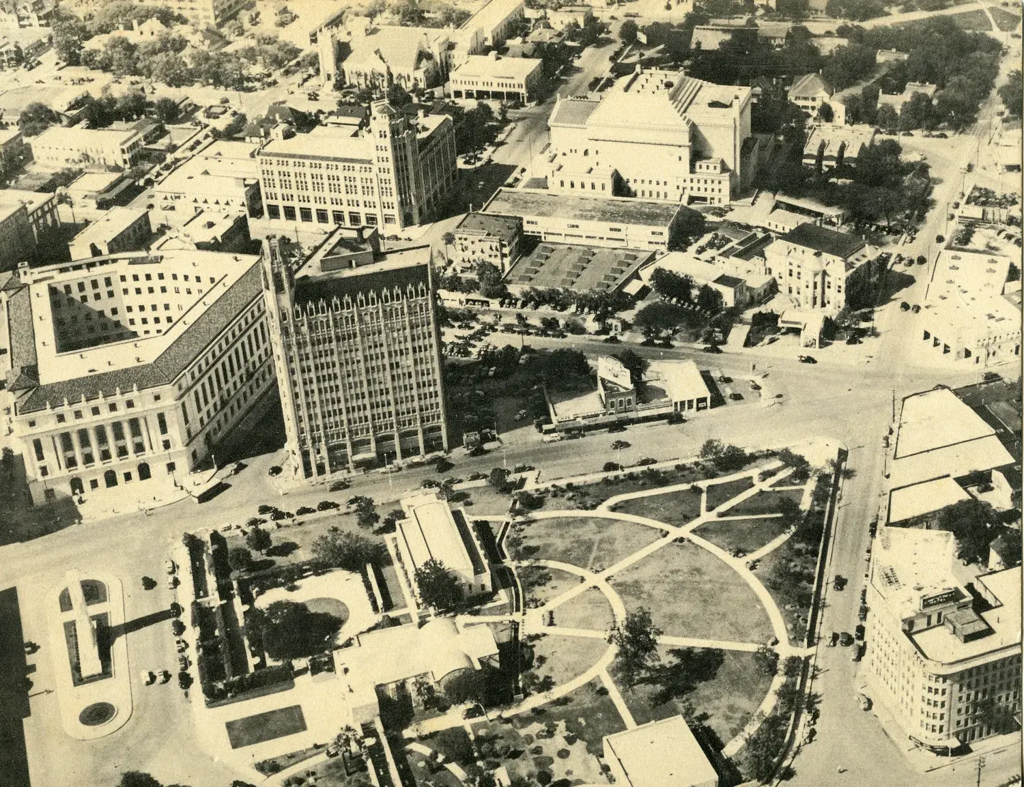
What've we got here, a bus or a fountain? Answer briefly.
bus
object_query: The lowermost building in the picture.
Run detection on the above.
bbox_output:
[603,715,725,787]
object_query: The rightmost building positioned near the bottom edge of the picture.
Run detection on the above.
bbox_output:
[869,528,1024,762]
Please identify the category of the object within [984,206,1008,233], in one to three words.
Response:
greenhouse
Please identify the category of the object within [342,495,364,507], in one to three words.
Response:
vehicle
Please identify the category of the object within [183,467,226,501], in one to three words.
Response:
bus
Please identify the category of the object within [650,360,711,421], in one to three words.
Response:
building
